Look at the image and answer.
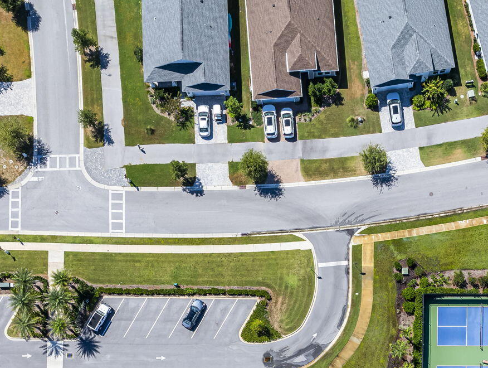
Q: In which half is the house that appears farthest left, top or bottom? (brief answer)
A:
top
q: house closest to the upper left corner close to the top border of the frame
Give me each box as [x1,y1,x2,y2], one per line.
[143,0,231,99]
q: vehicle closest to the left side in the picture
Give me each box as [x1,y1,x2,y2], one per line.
[87,302,114,335]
